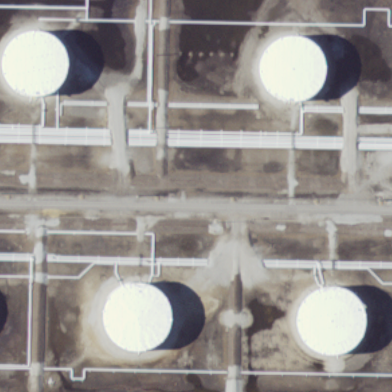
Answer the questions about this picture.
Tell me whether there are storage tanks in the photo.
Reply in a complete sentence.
Yes, this view includes a storage tank.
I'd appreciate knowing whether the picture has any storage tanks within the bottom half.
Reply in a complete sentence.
Yes, looking within the bottom half, one can make out a storage tank.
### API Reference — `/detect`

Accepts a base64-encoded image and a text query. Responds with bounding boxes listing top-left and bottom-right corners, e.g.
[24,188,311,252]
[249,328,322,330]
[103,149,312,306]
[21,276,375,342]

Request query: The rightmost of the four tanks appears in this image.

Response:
[296,286,368,358]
